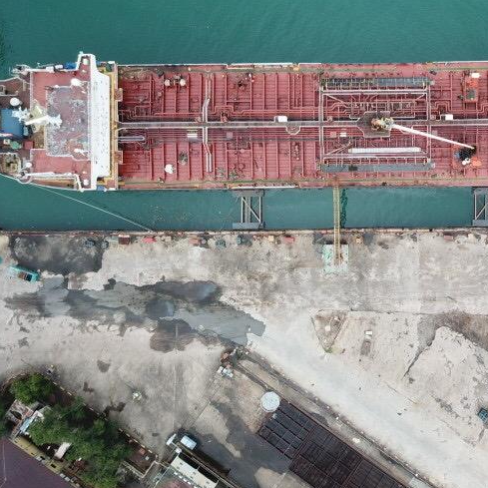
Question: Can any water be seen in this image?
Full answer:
Yes, water shows up in the scene.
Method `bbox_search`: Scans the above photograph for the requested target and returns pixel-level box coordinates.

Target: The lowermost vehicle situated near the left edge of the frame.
[6,264,37,284]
